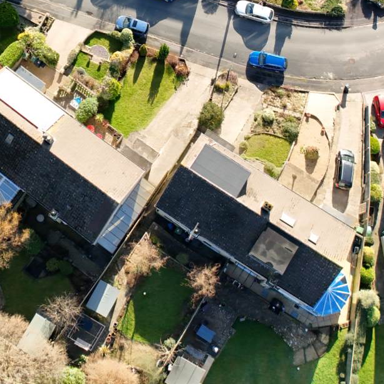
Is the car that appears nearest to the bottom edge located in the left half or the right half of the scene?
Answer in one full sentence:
It is on the right.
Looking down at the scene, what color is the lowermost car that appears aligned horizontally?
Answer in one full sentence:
In this view, the lowermost car that appears aligned horizontally is blue.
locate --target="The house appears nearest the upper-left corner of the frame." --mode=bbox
[0,61,155,261]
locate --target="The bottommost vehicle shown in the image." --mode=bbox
[334,148,357,191]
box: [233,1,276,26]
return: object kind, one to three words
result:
car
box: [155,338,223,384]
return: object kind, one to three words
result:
shed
